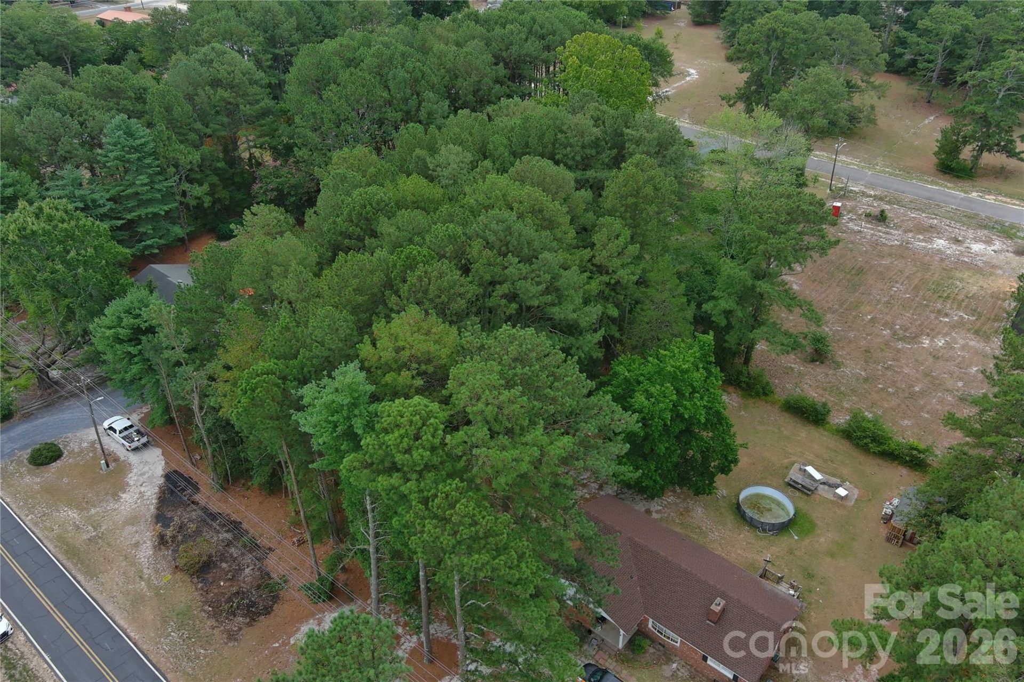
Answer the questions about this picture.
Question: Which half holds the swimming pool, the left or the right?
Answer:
right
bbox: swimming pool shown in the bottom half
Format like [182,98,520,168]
[734,485,795,533]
